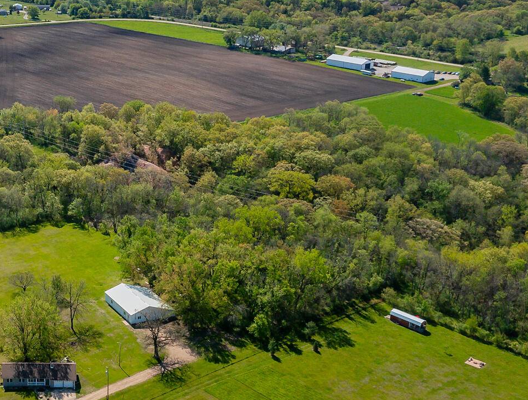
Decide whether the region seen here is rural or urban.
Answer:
rural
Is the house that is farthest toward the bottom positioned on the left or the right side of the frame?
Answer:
left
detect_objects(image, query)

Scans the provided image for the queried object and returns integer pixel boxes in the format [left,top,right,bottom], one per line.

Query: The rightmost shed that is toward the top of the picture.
[392,66,431,82]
